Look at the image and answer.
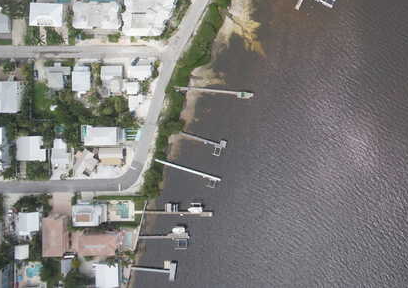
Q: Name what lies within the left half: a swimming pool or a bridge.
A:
swimming pool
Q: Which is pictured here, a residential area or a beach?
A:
residential area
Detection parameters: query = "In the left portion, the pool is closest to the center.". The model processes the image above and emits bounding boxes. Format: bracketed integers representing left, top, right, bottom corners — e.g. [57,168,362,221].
[124,127,141,142]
